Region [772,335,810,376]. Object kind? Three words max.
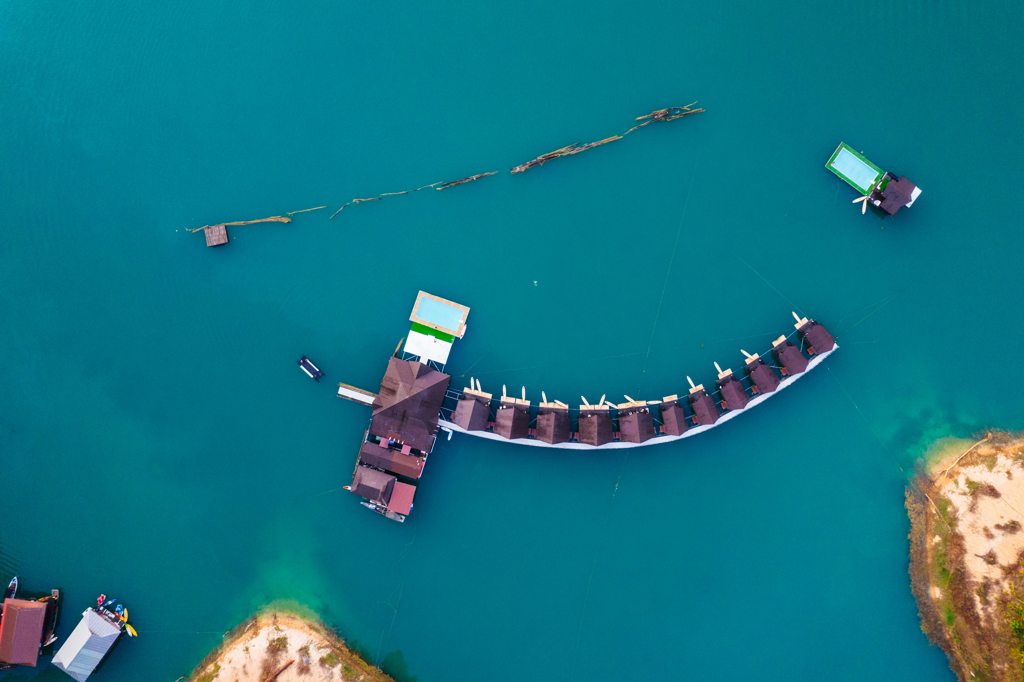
building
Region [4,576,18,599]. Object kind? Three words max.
boat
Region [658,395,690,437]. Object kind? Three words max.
building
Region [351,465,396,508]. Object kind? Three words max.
house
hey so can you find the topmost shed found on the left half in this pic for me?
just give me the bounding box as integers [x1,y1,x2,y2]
[204,225,229,246]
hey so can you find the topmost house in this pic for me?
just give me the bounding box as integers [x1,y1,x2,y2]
[866,172,921,216]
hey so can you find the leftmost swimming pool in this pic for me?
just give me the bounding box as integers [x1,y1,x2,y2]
[409,290,470,338]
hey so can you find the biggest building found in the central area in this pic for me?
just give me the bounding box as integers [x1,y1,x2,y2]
[365,356,451,453]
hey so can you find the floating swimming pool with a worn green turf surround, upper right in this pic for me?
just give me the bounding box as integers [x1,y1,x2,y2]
[824,142,885,196]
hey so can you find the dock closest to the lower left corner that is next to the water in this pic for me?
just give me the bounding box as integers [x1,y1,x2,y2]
[338,385,377,404]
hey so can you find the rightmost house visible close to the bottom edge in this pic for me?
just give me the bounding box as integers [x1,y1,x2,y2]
[51,605,127,682]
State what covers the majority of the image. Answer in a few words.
water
